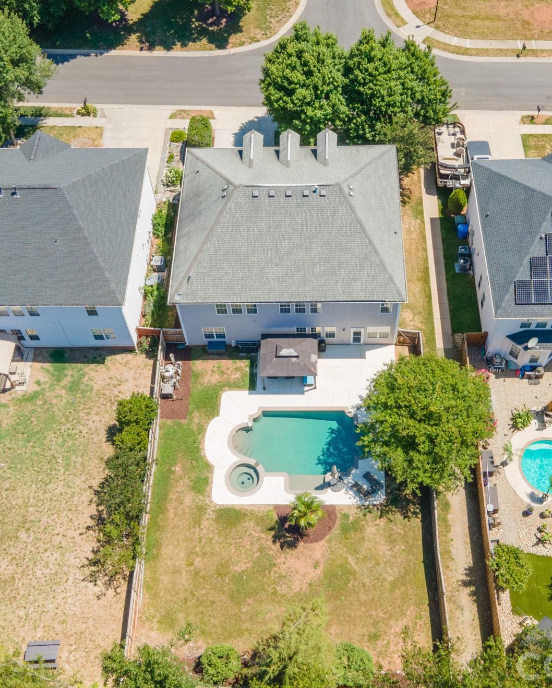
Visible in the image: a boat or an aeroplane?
boat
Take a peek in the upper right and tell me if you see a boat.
Yes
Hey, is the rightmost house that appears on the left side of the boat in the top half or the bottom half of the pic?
top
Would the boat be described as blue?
No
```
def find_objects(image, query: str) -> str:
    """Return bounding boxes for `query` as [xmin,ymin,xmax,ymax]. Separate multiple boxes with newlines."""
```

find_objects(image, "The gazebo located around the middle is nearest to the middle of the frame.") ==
[261,338,317,392]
